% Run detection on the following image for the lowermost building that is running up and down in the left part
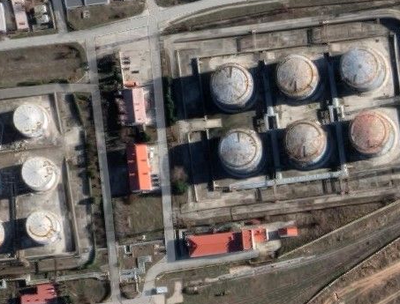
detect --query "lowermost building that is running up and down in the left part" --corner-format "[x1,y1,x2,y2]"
[126,143,153,193]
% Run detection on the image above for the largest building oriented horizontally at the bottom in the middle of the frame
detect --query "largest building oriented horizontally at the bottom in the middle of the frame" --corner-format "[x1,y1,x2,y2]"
[187,230,240,259]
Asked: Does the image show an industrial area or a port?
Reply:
industrial area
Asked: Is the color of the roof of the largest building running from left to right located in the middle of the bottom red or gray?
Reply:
red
